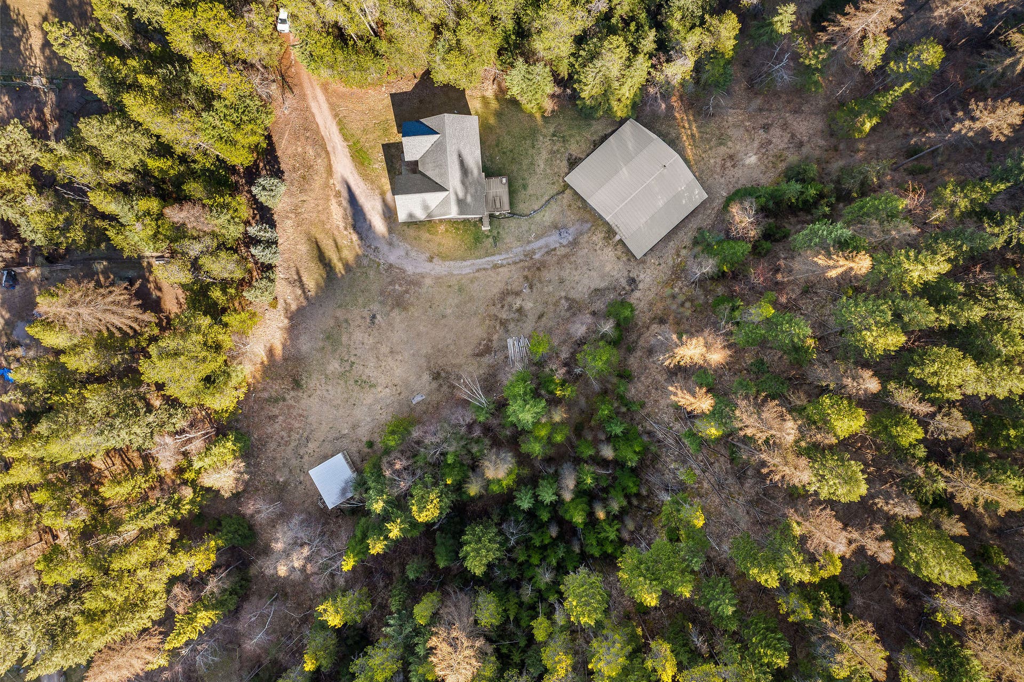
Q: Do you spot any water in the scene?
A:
No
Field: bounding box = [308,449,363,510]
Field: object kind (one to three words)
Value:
shed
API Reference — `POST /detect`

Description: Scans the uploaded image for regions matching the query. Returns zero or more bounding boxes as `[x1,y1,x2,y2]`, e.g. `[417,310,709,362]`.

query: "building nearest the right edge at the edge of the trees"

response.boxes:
[565,117,706,260]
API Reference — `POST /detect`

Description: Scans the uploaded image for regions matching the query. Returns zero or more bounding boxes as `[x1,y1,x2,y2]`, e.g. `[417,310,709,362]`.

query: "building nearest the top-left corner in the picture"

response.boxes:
[394,113,512,229]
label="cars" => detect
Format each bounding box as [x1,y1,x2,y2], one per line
[276,7,292,40]
[0,264,19,296]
